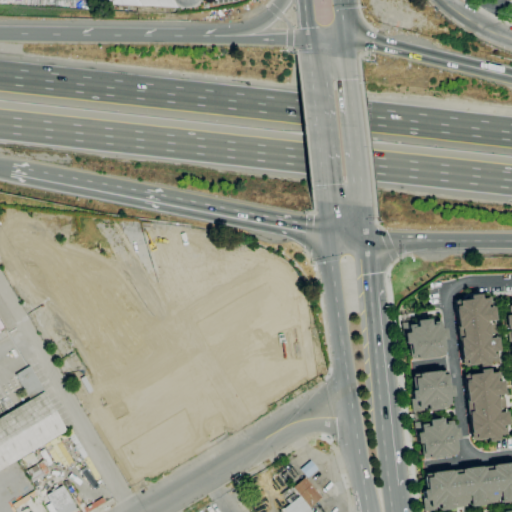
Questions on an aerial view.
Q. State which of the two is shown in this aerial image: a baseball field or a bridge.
bridge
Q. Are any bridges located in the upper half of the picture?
Yes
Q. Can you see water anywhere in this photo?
No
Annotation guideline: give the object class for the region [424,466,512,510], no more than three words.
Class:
building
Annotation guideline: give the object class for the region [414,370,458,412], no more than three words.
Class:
building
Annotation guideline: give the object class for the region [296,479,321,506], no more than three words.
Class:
shed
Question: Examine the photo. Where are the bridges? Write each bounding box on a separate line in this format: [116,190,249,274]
[297,48,378,214]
